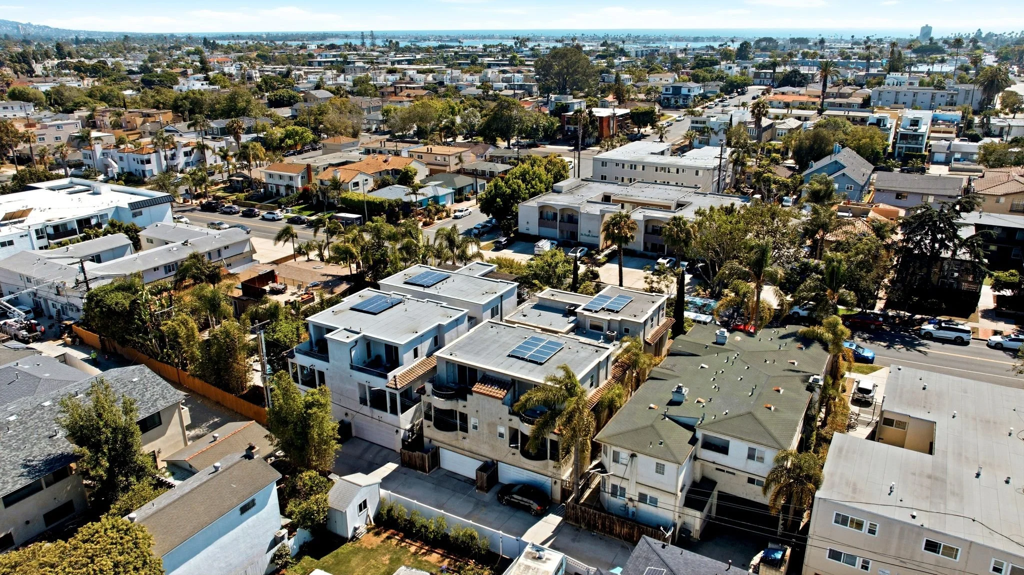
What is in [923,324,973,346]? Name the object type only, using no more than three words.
car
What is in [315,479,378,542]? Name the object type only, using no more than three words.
shed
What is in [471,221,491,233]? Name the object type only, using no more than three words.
vehicle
